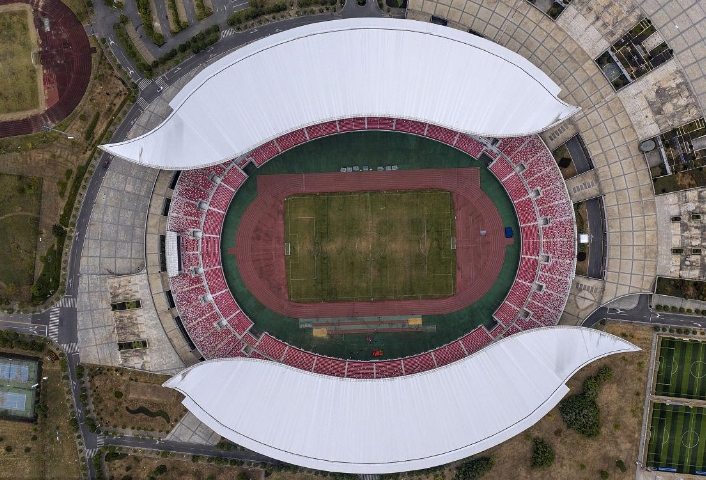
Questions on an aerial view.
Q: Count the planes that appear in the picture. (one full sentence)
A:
The photo contains no planes.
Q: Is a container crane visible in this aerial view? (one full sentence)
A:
No, the scene contains no container crane.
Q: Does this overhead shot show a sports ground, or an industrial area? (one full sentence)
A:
The picture captures a sports ground.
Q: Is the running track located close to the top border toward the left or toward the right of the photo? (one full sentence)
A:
The running track located close to the top border is on the left side of the image.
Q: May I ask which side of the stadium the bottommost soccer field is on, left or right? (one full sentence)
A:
To the right of the stadium is where the bottommost soccer field appears.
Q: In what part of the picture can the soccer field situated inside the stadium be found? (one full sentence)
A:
You can find the soccer field situated inside the stadium in the center area of the picture.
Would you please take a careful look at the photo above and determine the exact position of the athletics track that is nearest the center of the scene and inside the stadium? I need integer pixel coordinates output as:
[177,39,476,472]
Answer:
[229,166,514,321]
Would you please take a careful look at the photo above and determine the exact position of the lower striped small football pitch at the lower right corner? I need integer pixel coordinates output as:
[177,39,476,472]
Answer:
[643,402,706,472]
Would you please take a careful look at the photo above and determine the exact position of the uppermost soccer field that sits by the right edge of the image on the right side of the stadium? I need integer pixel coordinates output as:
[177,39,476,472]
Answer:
[654,334,706,401]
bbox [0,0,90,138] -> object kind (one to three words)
running track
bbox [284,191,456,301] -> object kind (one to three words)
soccer field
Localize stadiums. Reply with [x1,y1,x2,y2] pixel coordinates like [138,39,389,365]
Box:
[98,17,641,474]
